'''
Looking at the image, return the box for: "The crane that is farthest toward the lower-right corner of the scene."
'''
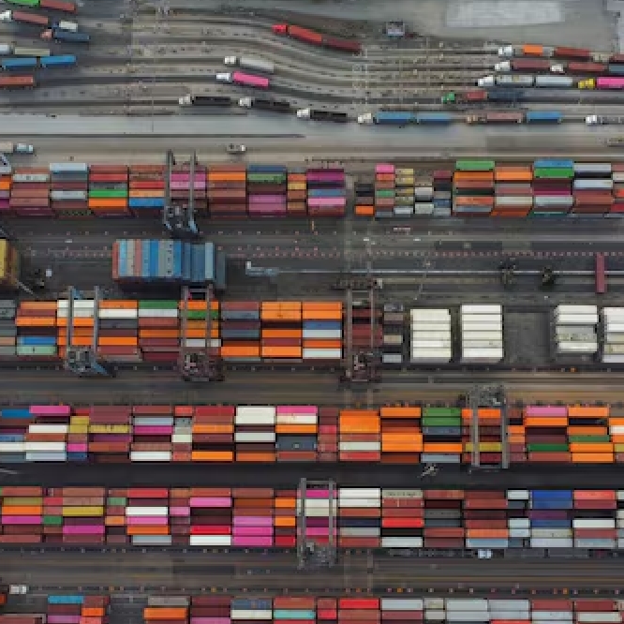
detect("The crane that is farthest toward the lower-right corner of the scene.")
[458,386,509,471]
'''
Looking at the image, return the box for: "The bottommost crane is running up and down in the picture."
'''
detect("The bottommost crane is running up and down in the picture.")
[297,480,340,568]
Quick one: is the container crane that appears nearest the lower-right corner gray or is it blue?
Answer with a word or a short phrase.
gray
